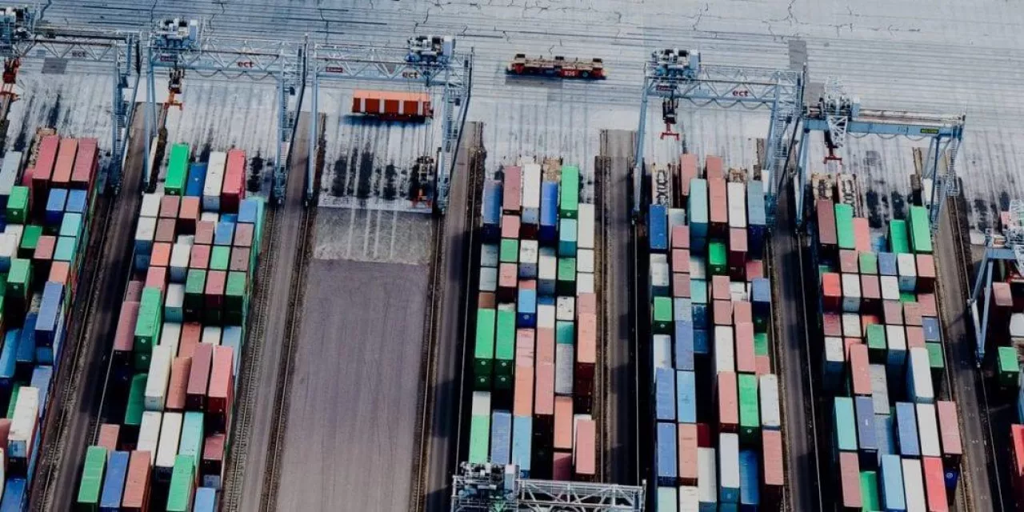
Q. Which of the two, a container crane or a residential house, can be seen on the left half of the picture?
container crane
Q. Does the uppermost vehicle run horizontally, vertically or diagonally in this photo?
horizontally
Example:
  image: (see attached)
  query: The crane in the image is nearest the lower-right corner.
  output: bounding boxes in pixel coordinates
[968,197,1024,356]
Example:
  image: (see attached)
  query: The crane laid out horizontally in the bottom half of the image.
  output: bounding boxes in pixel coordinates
[450,456,647,512]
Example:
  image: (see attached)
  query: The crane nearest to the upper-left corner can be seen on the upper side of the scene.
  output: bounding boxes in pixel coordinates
[0,4,146,190]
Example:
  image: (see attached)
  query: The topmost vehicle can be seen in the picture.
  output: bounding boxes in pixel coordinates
[509,53,602,79]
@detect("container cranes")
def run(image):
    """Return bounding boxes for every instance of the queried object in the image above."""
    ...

[142,16,311,200]
[792,75,969,233]
[968,197,1024,356]
[632,44,806,227]
[306,31,476,209]
[0,4,146,190]
[450,456,647,512]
